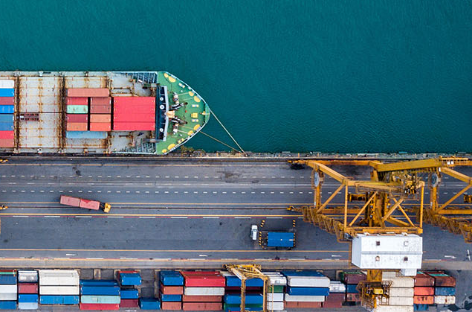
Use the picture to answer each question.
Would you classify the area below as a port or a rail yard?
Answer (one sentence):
The area seen from above is a port.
